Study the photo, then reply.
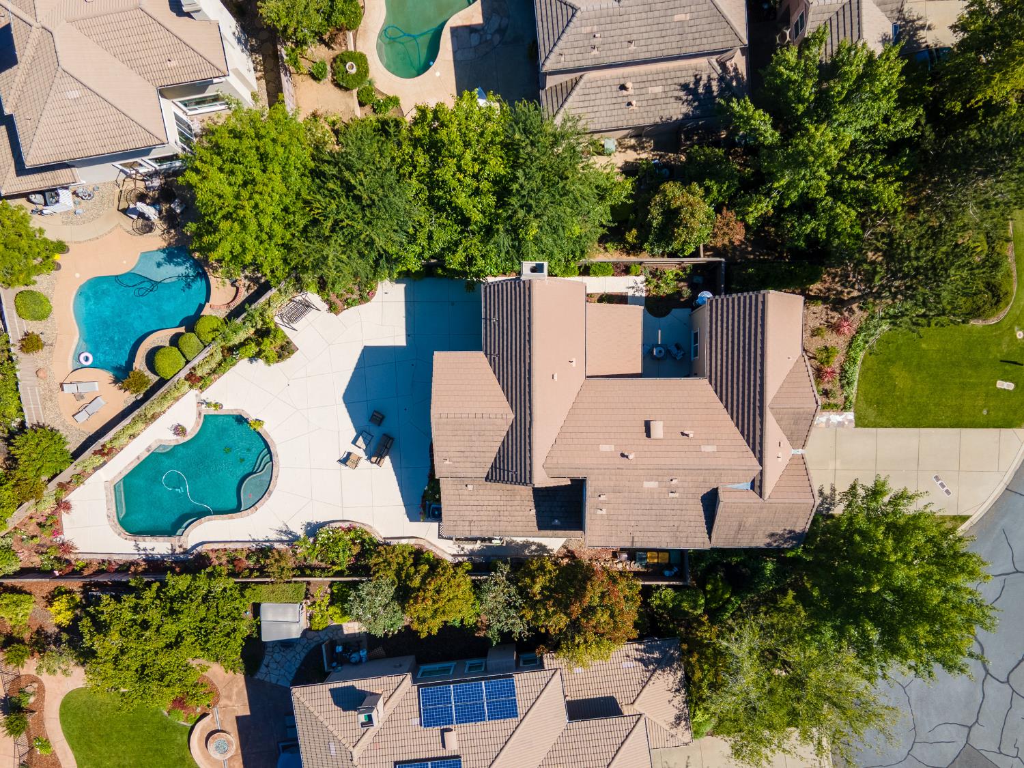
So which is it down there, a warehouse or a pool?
pool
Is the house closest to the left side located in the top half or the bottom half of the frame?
top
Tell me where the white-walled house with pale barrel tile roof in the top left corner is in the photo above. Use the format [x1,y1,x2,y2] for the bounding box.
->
[0,0,255,203]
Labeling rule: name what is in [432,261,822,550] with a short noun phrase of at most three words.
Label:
house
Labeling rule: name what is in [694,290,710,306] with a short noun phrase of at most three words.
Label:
umbrella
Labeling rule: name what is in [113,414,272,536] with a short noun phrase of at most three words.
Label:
swimming pool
